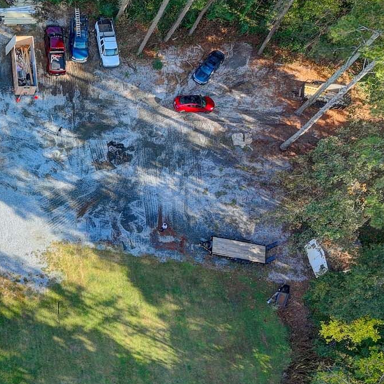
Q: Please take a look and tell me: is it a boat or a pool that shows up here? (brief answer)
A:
boat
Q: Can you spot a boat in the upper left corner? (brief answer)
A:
No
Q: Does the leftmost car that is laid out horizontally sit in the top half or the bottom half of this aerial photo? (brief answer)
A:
top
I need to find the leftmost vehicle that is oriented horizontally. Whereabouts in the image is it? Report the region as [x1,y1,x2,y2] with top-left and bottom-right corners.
[171,93,215,115]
